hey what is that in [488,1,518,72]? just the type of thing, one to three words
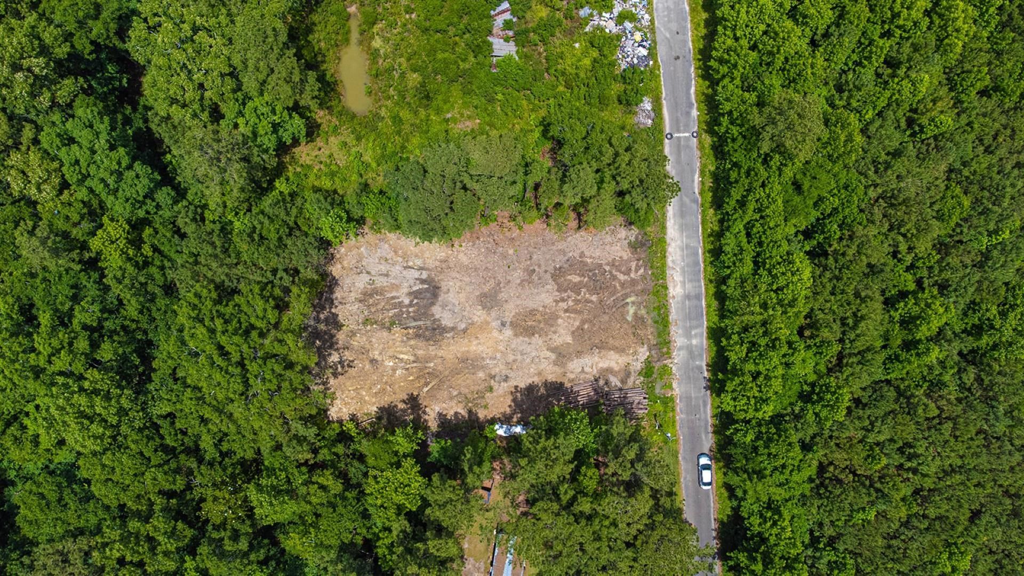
shed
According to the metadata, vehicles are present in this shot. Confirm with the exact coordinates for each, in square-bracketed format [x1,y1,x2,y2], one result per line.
[698,455,715,490]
